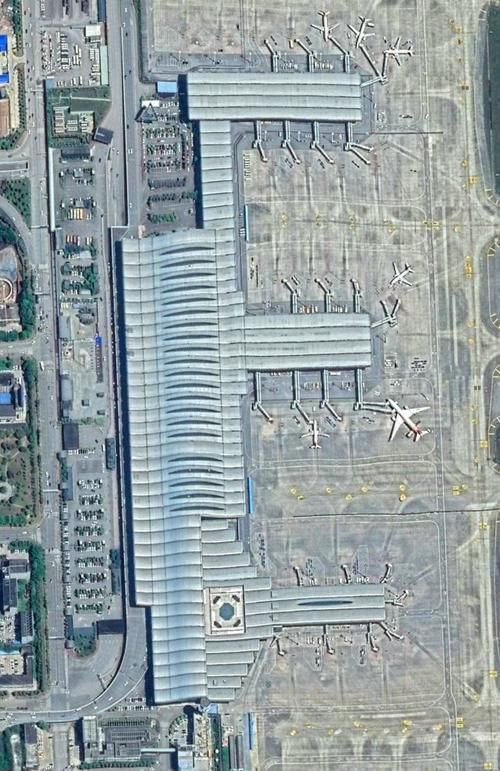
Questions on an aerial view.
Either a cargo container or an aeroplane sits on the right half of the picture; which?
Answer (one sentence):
You can see an aeroplane on the right half of the picture.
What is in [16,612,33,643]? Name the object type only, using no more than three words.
building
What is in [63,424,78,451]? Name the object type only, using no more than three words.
building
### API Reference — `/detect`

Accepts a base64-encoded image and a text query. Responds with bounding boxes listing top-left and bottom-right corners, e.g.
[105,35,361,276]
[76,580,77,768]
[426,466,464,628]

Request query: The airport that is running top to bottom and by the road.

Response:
[140,0,500,771]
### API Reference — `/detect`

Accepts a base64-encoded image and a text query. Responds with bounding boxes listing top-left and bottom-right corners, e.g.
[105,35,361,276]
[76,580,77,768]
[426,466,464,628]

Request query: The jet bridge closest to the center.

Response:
[255,370,273,422]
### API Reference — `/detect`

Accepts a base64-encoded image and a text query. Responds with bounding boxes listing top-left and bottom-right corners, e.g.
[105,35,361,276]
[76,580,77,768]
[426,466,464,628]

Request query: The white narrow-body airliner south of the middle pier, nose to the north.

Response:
[301,420,330,448]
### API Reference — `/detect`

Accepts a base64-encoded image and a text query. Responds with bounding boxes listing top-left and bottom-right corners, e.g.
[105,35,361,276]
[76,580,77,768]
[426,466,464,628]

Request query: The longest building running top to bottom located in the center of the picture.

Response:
[123,120,282,707]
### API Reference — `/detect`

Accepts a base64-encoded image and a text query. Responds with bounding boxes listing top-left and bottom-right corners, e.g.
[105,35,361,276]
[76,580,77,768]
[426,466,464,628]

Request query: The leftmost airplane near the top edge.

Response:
[310,11,338,40]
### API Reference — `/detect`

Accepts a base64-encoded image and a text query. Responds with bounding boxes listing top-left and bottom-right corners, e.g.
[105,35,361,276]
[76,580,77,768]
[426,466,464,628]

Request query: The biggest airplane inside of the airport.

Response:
[386,399,430,440]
